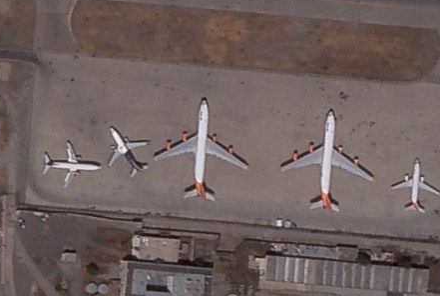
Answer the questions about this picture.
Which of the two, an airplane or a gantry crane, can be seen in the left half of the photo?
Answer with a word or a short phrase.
airplane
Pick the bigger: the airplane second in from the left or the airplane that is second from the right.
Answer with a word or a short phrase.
the airplane that is second from the right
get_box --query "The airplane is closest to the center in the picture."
[154,99,250,201]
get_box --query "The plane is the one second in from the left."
[112,127,151,178]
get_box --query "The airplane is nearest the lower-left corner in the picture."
[46,142,102,189]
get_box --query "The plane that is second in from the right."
[282,109,377,210]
